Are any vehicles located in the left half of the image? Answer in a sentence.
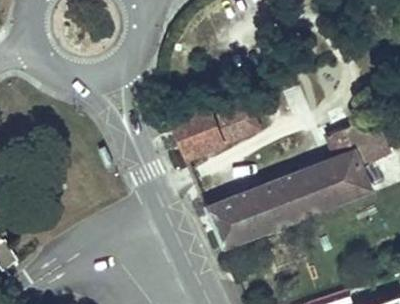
Yes, I can see a vehicle in the left half of the image.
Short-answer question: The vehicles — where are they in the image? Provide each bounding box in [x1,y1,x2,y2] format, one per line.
[96,144,115,169]
[234,164,258,178]
[130,113,142,133]
[222,0,235,18]
[368,164,382,184]
[94,258,114,268]
[236,0,246,10]
[72,80,90,98]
